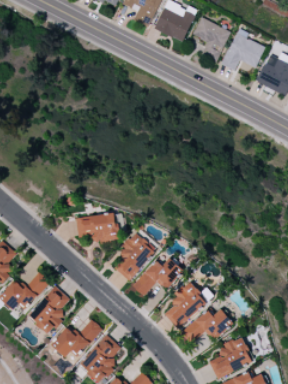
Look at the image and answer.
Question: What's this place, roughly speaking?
residential area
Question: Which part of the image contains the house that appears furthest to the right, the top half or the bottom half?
top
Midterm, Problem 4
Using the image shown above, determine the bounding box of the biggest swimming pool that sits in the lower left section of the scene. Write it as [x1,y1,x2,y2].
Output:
[22,326,39,346]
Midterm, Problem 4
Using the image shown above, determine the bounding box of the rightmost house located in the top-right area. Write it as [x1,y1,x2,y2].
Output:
[258,53,288,94]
